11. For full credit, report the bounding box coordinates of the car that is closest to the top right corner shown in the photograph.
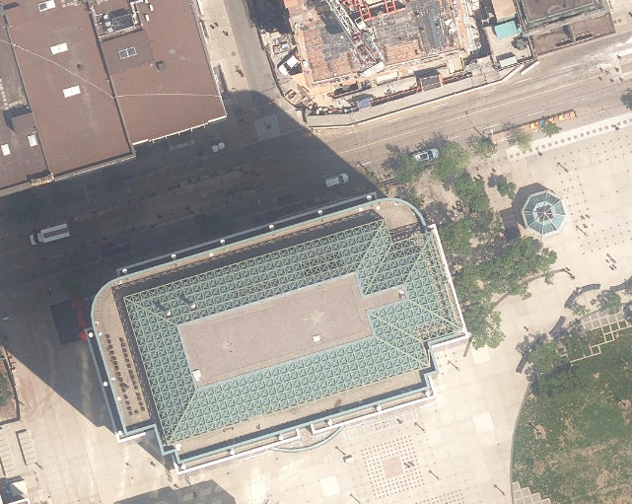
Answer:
[414,149,439,162]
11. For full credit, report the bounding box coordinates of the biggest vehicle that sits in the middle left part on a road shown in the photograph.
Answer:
[30,222,69,244]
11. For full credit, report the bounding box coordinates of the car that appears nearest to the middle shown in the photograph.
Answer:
[325,173,350,187]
